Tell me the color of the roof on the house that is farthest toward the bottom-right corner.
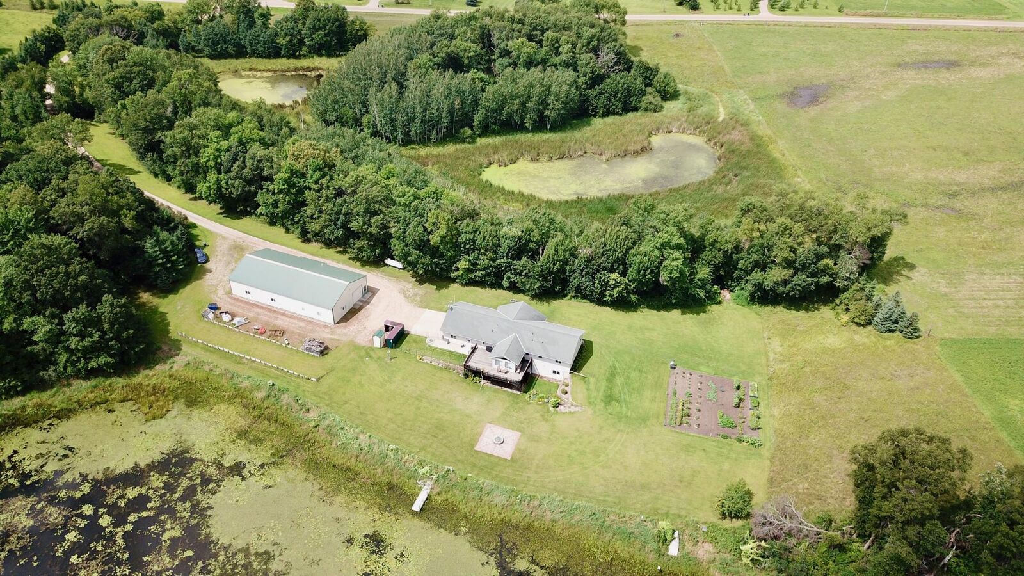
white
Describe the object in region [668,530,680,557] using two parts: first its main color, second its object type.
white boat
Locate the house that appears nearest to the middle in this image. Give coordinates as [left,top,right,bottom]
[440,294,585,391]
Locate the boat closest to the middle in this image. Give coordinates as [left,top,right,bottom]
[382,257,404,269]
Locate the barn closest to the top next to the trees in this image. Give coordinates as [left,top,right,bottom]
[229,249,373,322]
